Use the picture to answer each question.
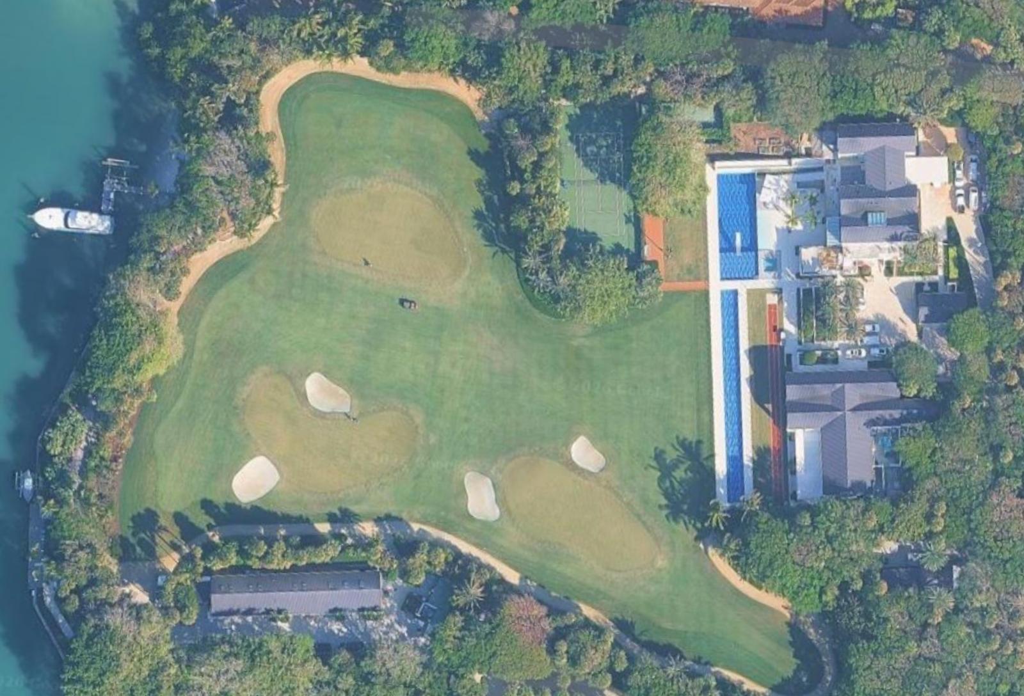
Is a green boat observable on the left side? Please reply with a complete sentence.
No, the scene shows no green boat on the left side.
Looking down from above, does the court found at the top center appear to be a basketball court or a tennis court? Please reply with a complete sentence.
The court found at the top center is a tennis court.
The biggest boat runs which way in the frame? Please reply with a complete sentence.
In this picture, the biggest boat lies from left to right.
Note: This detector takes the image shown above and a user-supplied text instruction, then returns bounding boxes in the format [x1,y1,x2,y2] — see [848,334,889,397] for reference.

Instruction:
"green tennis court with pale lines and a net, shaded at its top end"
[558,101,643,257]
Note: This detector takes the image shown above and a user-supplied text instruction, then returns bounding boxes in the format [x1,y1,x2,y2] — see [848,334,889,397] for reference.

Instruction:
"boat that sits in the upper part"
[28,208,117,236]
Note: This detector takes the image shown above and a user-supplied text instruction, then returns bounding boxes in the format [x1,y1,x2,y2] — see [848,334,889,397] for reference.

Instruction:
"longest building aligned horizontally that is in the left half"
[209,571,381,617]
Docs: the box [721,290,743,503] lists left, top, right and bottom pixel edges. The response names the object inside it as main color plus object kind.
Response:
blue swimming pool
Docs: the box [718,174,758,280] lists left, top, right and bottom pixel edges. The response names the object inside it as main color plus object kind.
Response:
blue swimming pool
